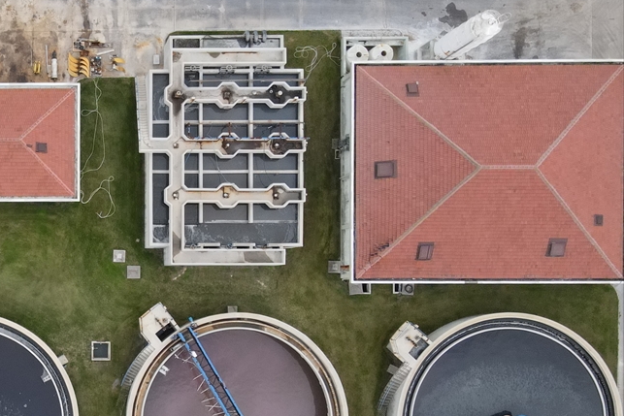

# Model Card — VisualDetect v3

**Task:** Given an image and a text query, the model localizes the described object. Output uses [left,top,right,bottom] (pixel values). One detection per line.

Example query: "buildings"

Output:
[0,84,81,203]
[332,61,624,283]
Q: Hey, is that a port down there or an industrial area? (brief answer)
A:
industrial area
